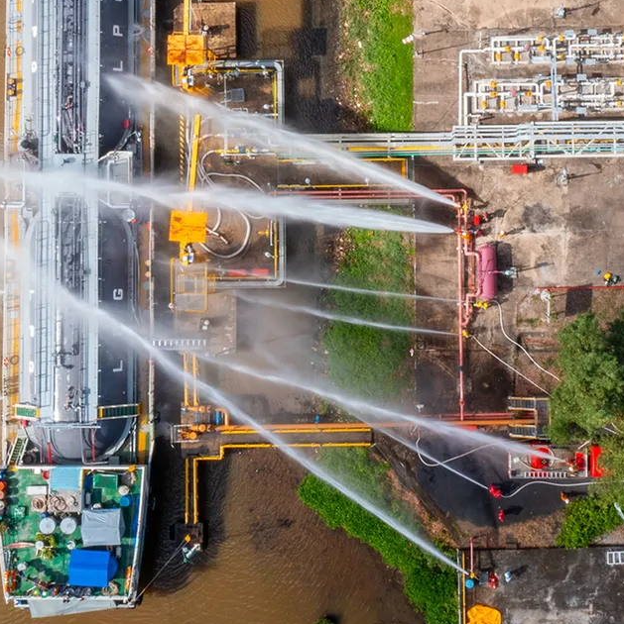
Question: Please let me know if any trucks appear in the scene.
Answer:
Yes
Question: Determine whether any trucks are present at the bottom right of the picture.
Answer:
Yes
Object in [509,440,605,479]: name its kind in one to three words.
truck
